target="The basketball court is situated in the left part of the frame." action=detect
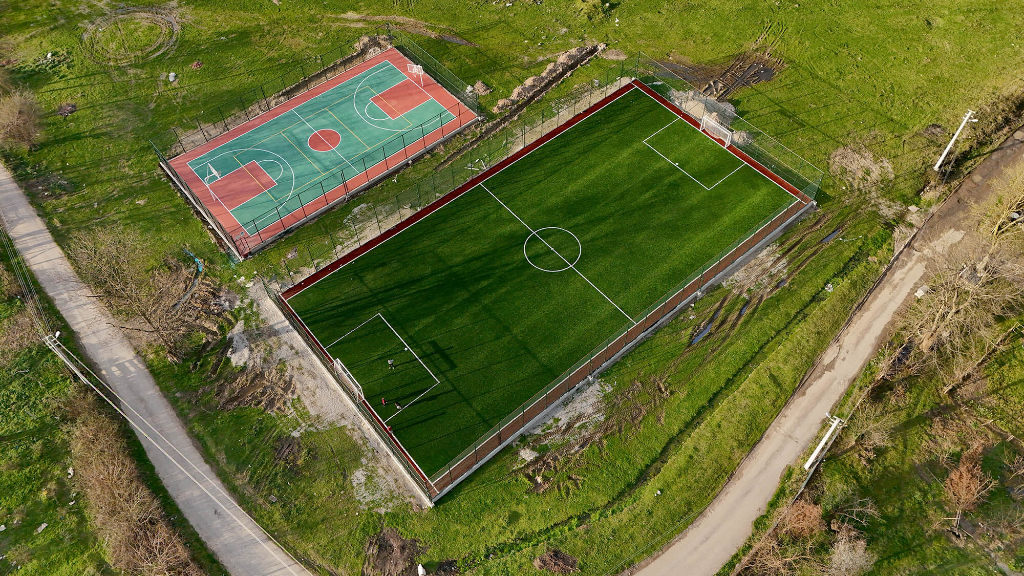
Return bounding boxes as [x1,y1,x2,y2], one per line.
[168,47,477,254]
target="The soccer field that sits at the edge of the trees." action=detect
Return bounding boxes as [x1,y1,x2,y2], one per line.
[274,80,813,499]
